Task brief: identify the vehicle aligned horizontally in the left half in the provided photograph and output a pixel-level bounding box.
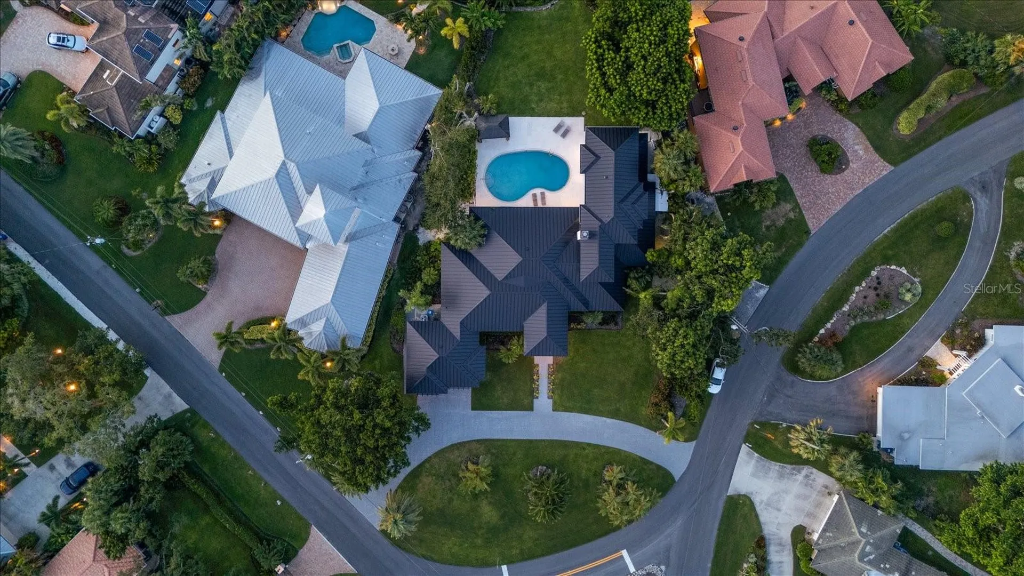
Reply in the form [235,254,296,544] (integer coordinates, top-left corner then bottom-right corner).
[45,32,89,54]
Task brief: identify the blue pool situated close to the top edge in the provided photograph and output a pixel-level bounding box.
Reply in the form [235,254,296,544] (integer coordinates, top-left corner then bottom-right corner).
[300,3,378,58]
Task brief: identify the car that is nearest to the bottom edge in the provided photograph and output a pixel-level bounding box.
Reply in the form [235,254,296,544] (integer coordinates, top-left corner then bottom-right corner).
[59,459,99,495]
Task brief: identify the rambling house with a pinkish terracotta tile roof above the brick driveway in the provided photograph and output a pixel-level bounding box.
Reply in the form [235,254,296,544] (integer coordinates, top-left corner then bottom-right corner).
[692,0,915,193]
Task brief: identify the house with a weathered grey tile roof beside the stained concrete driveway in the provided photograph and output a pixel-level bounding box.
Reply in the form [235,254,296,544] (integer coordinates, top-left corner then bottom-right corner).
[806,488,949,576]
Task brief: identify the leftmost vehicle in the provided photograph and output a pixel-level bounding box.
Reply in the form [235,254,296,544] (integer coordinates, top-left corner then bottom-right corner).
[0,71,25,113]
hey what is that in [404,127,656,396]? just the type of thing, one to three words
house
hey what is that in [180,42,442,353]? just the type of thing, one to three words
house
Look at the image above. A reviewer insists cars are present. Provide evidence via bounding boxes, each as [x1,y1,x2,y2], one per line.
[706,357,728,394]
[45,32,89,54]
[0,71,25,113]
[59,459,99,495]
